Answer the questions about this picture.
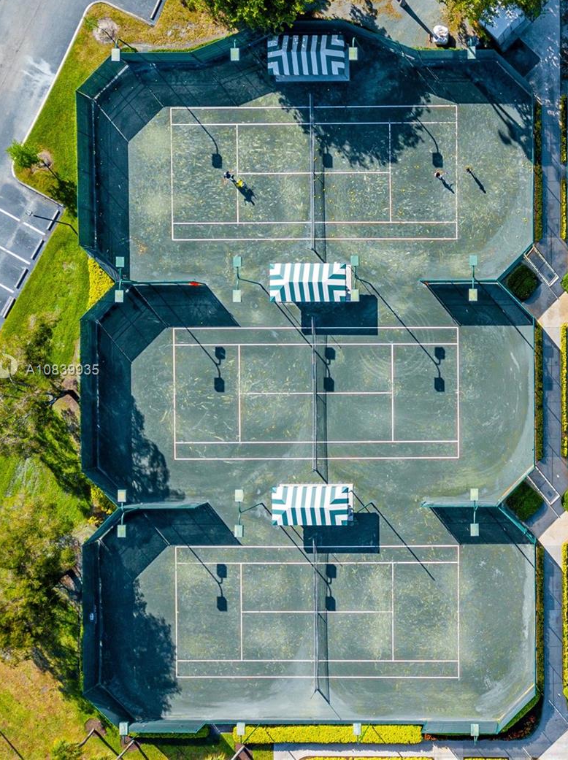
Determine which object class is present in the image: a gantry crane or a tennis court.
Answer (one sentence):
The one in the frame is a tennis court.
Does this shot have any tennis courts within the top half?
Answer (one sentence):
Yes, within the top half there is a tennis court.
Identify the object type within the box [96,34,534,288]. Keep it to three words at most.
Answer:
tennis court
